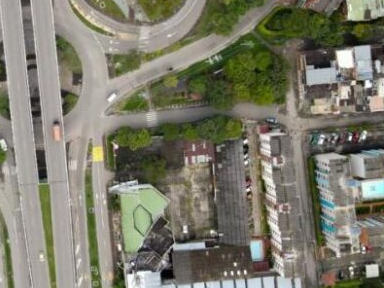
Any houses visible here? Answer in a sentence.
Yes, the picture does show a house.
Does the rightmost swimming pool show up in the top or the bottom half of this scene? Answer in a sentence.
Seen from above, the rightmost swimming pool lies in the bottom half of the view.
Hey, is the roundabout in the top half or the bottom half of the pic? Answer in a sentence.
The roundabout is in the top half of the image.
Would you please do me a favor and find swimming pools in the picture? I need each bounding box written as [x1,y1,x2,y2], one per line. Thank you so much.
[251,236,273,262]
[360,178,384,200]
